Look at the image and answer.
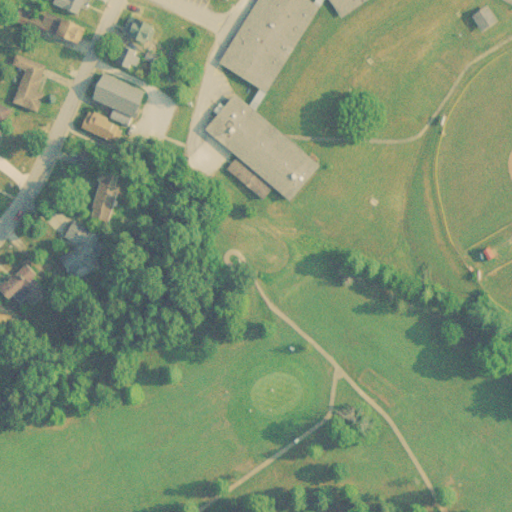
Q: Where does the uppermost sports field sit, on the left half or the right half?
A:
right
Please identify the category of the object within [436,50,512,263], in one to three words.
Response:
sports field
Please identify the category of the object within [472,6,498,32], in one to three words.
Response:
shed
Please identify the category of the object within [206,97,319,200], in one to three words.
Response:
building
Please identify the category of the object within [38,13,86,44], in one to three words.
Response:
house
